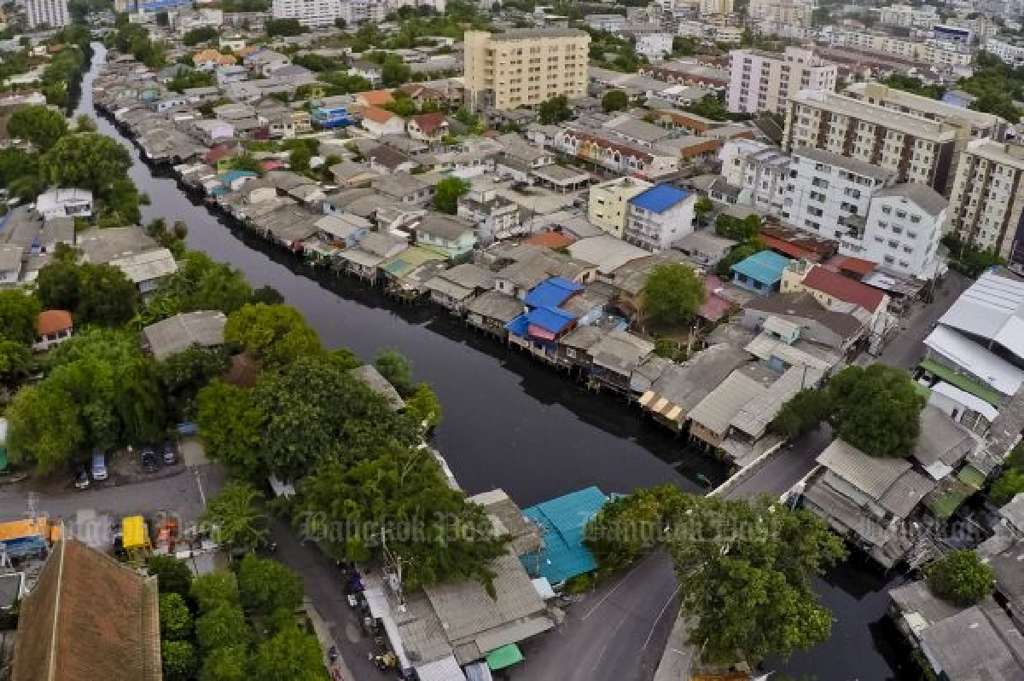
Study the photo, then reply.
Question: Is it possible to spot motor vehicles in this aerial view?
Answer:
Yes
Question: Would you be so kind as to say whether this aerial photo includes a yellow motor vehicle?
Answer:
Yes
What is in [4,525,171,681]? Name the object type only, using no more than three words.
building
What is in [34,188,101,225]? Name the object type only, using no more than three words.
house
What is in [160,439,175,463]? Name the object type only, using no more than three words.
car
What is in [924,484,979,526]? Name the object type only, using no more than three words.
shed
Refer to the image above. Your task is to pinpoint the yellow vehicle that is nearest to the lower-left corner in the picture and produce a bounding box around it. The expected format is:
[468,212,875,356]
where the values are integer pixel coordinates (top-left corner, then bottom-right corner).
[116,516,144,556]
